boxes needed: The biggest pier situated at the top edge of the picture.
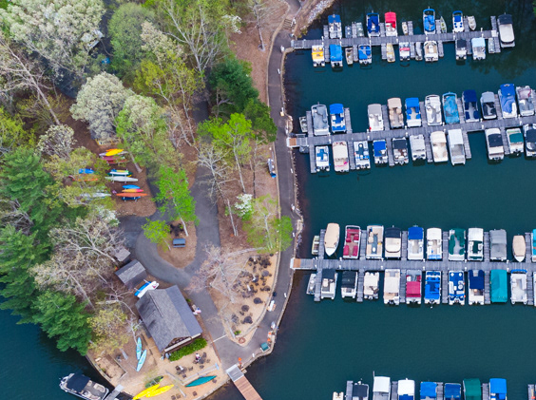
[304,17,500,64]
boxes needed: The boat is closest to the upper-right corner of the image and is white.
[498,14,514,48]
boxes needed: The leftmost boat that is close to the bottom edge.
[59,373,109,400]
